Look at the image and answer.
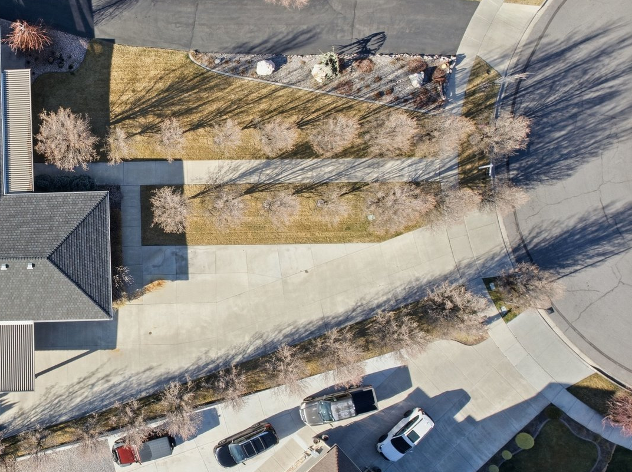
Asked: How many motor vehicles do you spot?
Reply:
4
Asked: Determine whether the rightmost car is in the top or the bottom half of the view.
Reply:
bottom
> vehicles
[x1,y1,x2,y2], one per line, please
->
[376,405,436,460]
[296,382,381,425]
[211,420,282,465]
[112,433,173,467]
